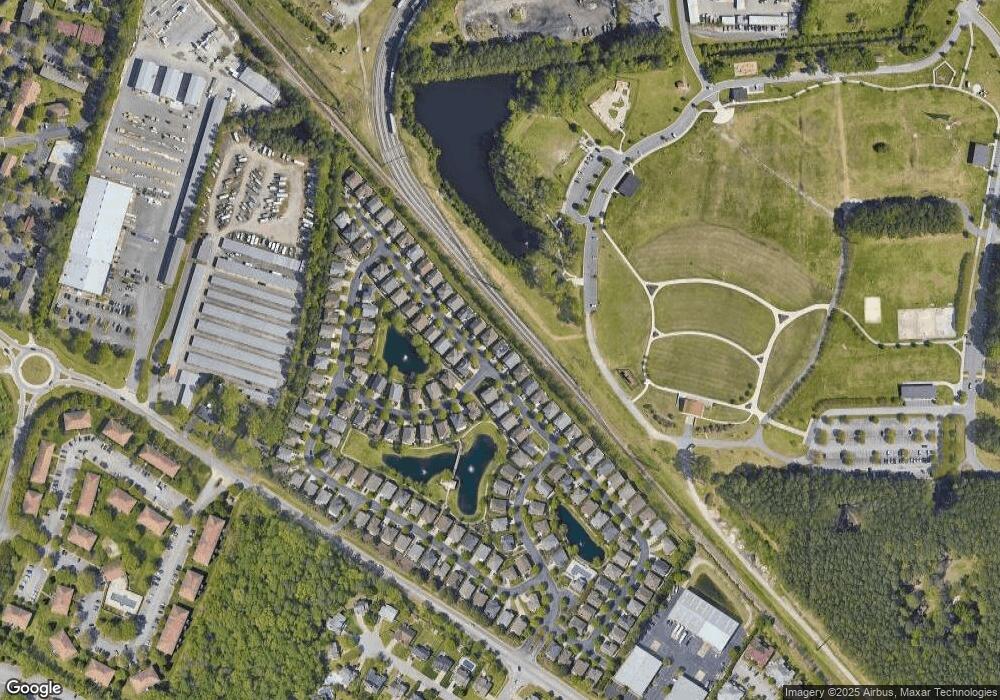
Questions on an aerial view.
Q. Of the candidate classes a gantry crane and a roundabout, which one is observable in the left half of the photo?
roundabout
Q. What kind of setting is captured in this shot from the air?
residential area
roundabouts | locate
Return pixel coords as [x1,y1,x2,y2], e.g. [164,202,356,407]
[9,343,66,399]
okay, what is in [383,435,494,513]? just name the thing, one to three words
pond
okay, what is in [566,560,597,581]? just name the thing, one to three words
swimming pool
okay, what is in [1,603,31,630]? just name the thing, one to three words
building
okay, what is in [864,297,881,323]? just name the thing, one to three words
sports court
